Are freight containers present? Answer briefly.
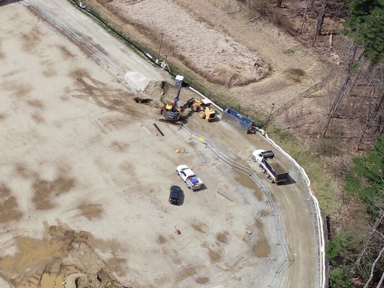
Yes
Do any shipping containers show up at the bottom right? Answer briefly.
No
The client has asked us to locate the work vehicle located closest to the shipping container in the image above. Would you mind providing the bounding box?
[183,100,221,121]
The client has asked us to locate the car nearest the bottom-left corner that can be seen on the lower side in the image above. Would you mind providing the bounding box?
[163,185,188,209]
